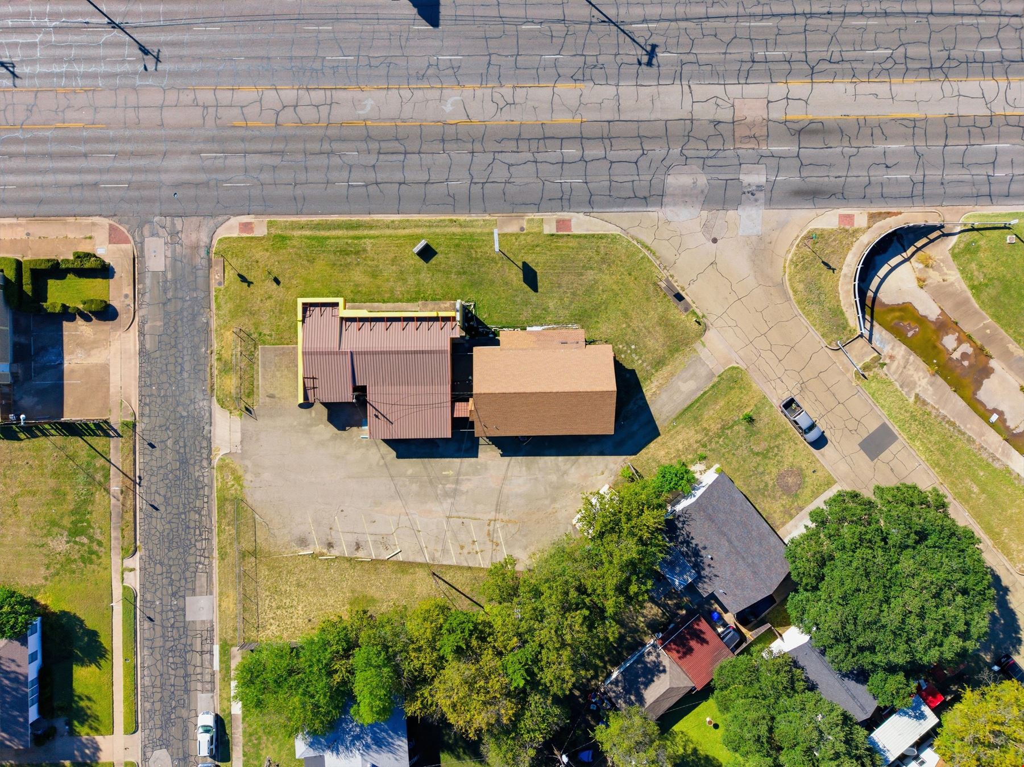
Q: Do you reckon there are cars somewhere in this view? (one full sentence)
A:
Yes, this view includes a car.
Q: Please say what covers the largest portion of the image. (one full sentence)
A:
The scene is dominated by paved ground.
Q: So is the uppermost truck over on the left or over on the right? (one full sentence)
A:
It is on the right.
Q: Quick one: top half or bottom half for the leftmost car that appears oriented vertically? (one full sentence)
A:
You can find the leftmost car that appears oriented vertically in the bottom half.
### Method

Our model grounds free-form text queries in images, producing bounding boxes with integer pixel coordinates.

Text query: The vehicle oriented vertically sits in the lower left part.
[193,713,215,763]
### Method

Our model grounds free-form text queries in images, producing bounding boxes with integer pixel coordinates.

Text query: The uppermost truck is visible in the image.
[782,394,824,443]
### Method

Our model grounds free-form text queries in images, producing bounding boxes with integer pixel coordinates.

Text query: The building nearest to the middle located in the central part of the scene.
[460,329,619,436]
